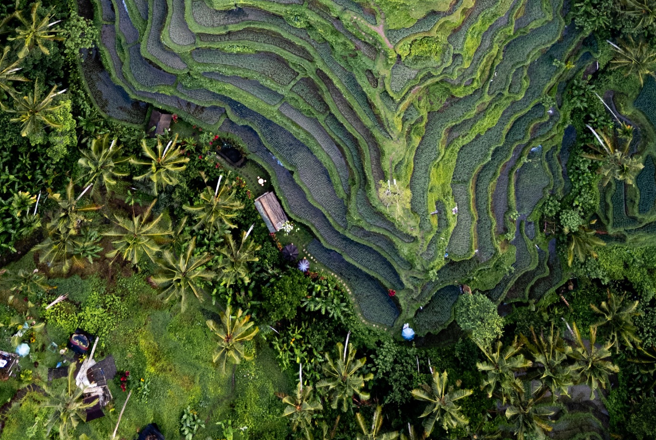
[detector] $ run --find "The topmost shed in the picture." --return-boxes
[147,109,173,134]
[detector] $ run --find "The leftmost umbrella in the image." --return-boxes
[17,342,31,356]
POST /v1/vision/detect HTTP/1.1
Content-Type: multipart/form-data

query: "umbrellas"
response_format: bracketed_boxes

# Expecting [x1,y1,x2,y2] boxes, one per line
[297,259,309,270]
[401,326,414,339]
[283,243,298,260]
[17,342,31,356]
